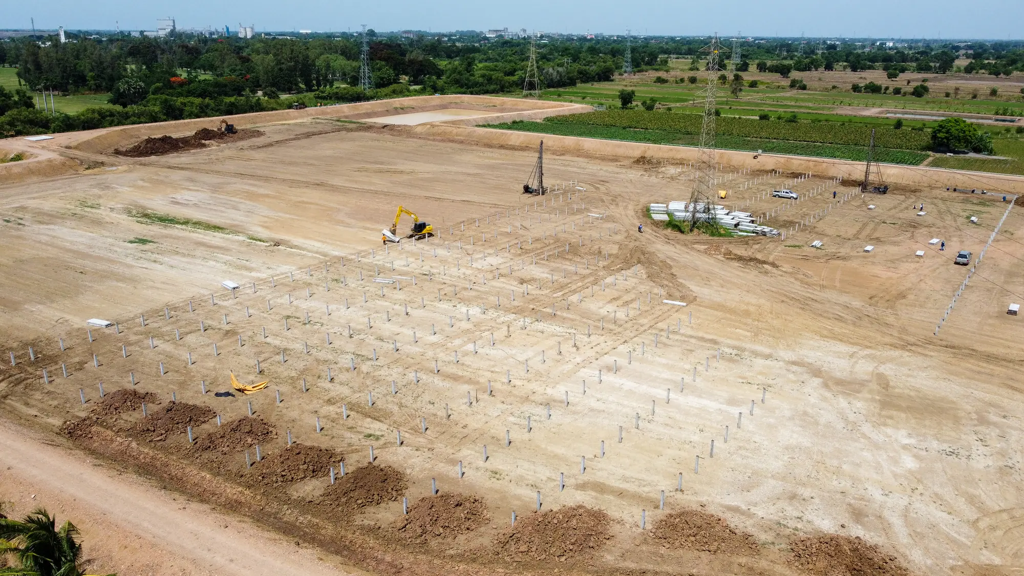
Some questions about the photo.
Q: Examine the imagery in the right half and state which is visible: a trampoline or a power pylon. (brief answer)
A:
power pylon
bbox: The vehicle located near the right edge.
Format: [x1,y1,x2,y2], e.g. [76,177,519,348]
[955,250,974,266]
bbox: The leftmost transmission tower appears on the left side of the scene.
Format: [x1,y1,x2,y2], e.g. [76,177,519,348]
[353,23,370,87]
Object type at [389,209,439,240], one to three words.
work vehicle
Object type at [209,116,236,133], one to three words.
work vehicle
